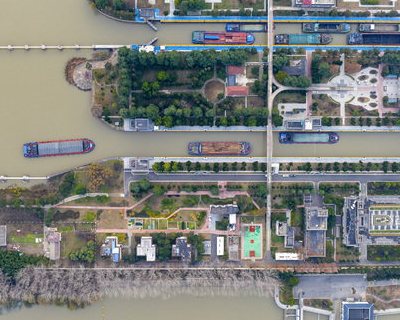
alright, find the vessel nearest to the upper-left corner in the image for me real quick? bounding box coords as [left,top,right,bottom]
[22,139,94,158]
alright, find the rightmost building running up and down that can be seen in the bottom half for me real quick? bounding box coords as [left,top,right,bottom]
[340,196,364,248]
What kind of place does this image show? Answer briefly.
port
